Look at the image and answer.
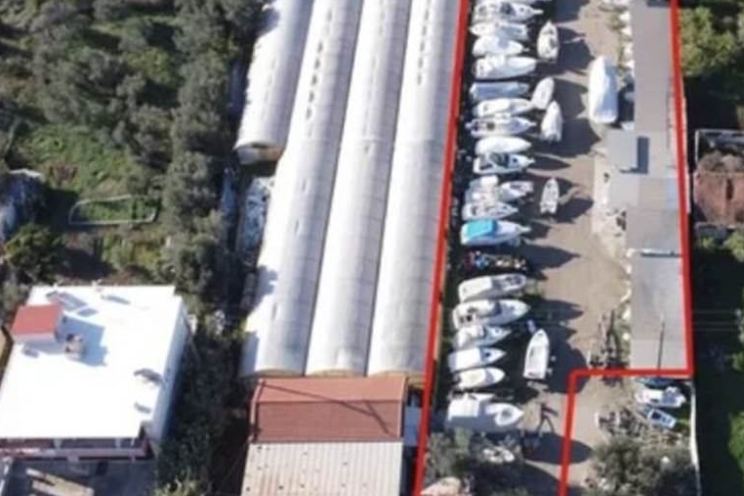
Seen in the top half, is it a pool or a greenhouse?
greenhouse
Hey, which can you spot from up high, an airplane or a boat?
boat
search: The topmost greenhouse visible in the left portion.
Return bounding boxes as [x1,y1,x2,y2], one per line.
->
[237,0,314,164]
